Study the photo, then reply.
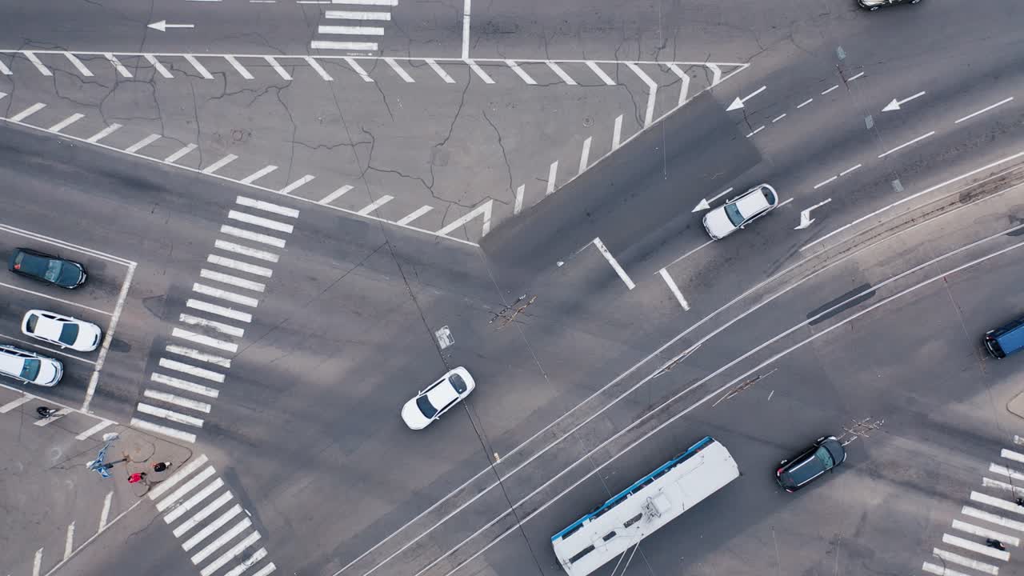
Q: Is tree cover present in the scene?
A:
No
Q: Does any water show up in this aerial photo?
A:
No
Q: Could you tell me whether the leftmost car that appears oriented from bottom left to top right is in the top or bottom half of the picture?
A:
bottom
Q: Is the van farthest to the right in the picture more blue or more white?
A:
blue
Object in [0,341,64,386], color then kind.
white car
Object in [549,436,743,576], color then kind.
white bus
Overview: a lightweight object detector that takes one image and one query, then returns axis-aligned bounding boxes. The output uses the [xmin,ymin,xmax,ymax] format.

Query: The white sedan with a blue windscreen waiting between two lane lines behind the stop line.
[21,309,102,352]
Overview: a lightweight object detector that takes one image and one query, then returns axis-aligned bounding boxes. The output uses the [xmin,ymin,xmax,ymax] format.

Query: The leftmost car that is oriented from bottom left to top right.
[402,368,475,429]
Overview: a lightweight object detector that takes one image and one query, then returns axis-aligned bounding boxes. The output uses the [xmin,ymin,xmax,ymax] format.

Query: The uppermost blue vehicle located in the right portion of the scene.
[984,313,1024,360]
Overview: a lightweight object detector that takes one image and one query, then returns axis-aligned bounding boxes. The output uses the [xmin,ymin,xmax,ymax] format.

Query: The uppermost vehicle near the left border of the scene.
[7,247,88,290]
